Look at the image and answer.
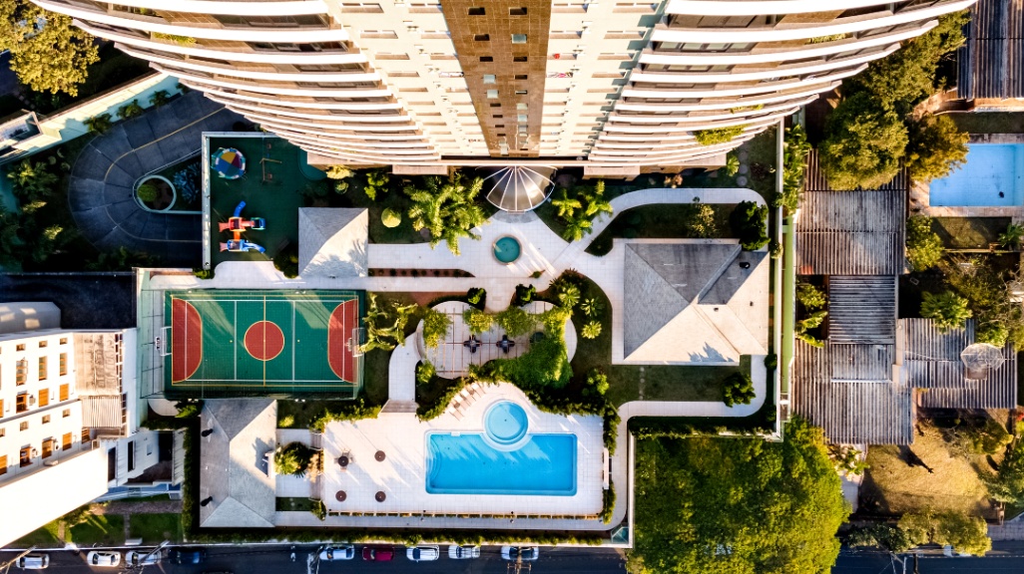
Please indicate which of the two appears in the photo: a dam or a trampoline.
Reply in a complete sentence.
Looking from above, you can make out a trampoline.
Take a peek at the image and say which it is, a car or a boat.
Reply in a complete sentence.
The one in the frame is a car.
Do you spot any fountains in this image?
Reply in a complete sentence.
Yes, the photo shows a fountain.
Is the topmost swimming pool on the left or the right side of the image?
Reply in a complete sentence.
The topmost swimming pool is on the right side of the image.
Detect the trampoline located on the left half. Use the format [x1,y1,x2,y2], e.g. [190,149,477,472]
[212,146,250,180]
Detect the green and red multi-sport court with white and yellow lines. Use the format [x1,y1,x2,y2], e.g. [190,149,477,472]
[164,289,364,399]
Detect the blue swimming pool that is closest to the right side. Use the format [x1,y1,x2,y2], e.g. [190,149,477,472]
[931,142,1024,206]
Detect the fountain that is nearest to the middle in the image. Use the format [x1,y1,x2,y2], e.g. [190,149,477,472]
[492,234,522,264]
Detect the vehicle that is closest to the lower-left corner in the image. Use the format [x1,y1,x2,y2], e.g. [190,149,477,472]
[18,551,54,571]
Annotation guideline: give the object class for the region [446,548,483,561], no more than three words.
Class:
vehicle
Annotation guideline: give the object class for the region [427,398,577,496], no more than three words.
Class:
swimming pool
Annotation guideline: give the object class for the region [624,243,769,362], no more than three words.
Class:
building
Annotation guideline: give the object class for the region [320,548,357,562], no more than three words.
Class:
car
